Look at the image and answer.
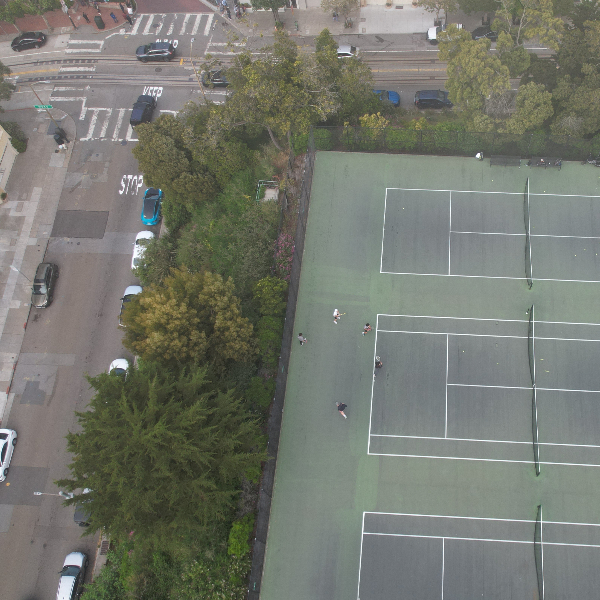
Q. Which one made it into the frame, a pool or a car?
car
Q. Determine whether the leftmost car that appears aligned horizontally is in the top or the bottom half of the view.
top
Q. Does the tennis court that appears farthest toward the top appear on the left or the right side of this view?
right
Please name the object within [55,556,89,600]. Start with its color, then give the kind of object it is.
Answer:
white car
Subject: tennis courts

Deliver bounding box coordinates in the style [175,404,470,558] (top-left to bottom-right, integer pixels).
[380,187,600,282]
[368,314,600,466]
[357,512,600,600]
